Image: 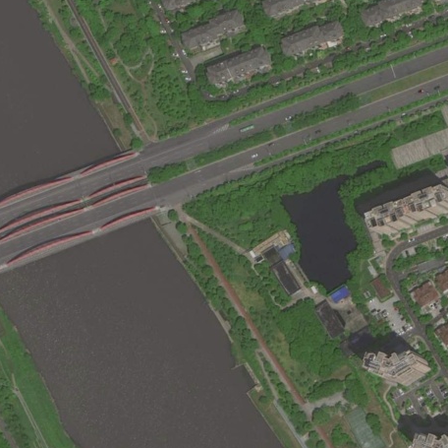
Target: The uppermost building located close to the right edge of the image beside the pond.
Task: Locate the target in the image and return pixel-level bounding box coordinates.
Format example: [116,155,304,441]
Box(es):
[364,185,448,237]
